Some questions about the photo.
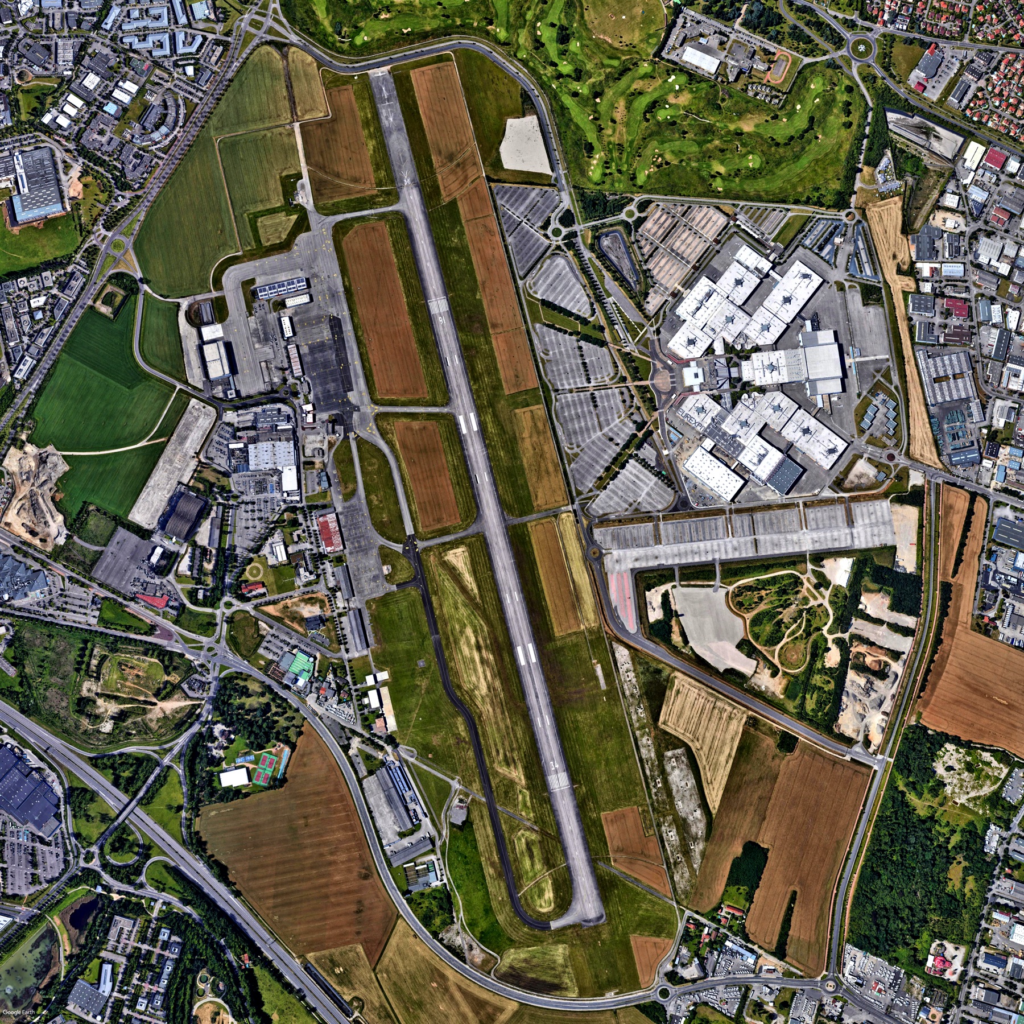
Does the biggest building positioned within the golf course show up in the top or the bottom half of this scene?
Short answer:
top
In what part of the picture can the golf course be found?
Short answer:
top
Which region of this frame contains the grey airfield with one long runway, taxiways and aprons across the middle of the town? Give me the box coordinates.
[223,68,606,929]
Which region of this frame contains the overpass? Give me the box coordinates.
[94,728,189,851]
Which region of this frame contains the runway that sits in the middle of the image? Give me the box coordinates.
[370,68,605,925]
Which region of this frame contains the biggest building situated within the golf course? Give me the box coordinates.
[681,47,720,76]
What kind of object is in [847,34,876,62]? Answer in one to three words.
roundabout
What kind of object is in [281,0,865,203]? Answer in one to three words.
golf course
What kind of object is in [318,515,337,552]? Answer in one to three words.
hangar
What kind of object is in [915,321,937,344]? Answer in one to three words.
building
